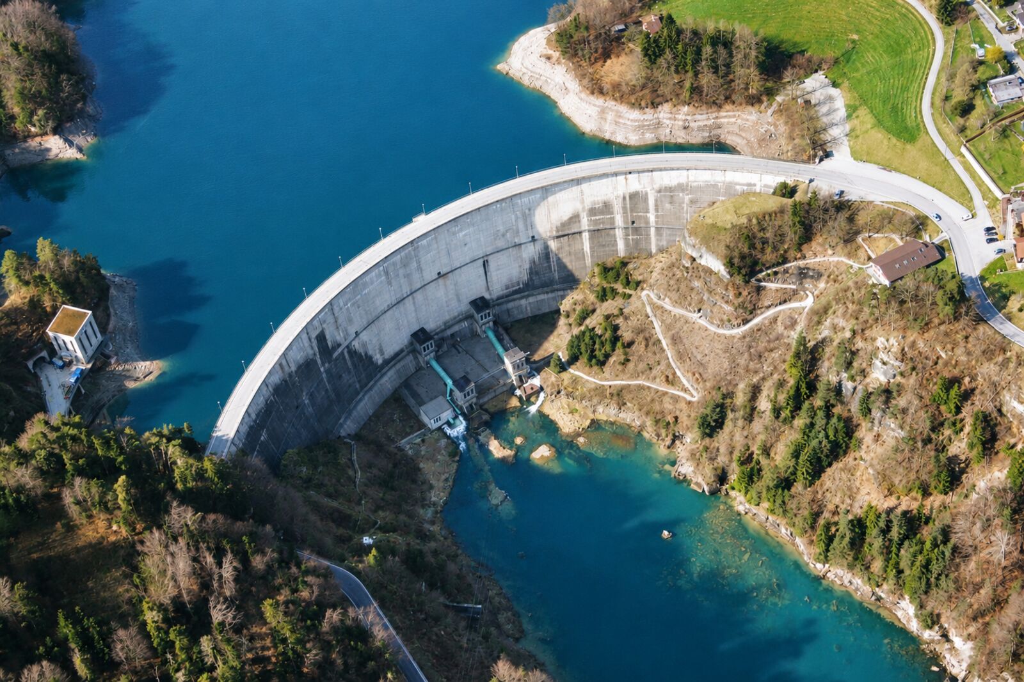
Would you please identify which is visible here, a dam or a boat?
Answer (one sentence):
This aerial view contains a dam.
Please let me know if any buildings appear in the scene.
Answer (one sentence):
Yes, looking at the shot, I can spot a building.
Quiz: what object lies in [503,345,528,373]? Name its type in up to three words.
house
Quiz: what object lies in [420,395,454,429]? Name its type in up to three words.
house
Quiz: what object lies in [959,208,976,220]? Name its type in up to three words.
vehicle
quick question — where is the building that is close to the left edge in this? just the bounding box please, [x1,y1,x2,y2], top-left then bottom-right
[47,304,109,366]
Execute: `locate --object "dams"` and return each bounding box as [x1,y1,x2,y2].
[203,150,821,477]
